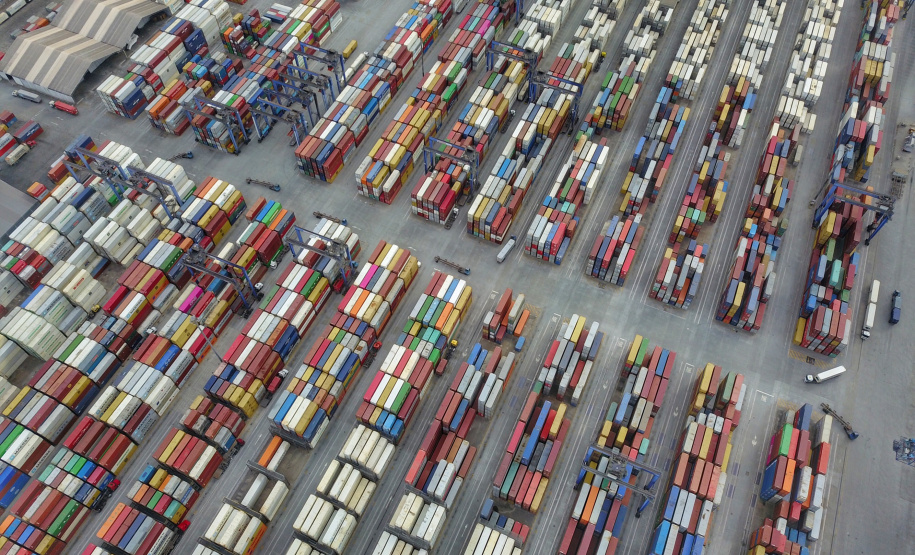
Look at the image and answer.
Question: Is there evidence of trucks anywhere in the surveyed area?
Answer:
Yes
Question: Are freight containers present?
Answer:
Yes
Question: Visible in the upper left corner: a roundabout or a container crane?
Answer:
container crane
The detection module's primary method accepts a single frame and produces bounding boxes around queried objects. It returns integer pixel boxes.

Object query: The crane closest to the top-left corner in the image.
[58,145,131,205]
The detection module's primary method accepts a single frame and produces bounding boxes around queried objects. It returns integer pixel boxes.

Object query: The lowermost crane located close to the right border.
[810,178,889,244]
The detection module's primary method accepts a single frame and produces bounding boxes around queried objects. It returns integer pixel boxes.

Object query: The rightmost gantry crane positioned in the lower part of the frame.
[572,441,659,521]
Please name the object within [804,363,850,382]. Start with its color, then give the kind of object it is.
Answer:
white vehicle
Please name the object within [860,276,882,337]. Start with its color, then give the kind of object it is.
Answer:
white truck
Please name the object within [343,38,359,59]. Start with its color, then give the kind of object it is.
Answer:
yellow vehicle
